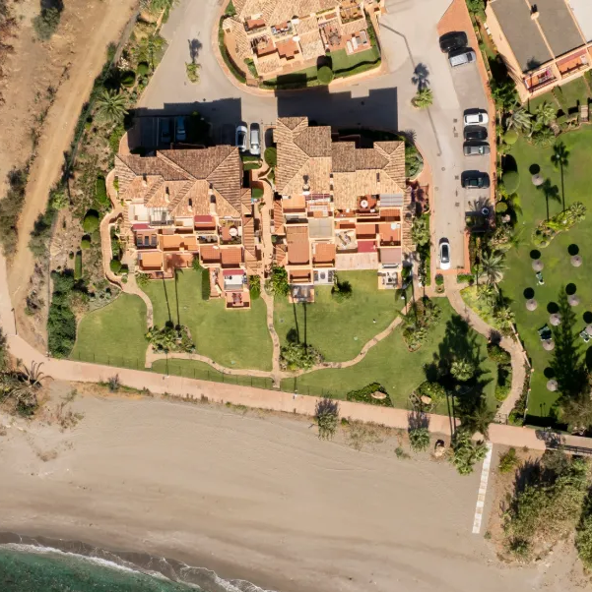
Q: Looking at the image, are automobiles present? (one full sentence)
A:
Yes, there is an automobile in the image.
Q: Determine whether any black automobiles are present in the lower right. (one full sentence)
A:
No, there's no black automobile to be seen in the lower right.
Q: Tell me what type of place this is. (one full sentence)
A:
It's a residential area.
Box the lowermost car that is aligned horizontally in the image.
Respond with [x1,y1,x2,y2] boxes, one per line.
[460,172,490,186]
